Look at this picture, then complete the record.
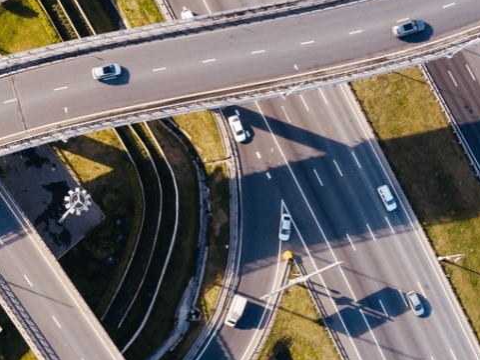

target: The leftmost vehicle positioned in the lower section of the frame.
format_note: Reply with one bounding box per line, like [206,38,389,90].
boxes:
[225,294,252,329]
